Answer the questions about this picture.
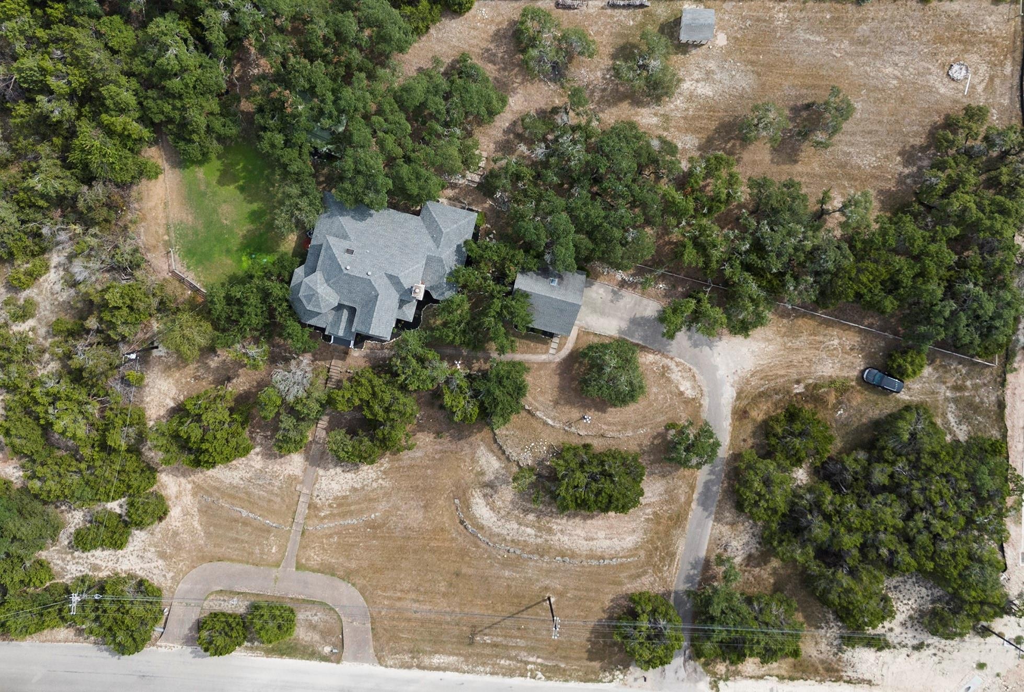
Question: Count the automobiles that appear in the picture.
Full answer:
The photo contains exactly 1 automobile.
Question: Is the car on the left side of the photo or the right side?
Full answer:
The car appears in the right half of the scene.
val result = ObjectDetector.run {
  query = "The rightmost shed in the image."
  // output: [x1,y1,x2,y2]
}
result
[677,8,715,47]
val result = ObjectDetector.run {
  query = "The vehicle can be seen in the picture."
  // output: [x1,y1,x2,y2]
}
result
[864,367,910,394]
